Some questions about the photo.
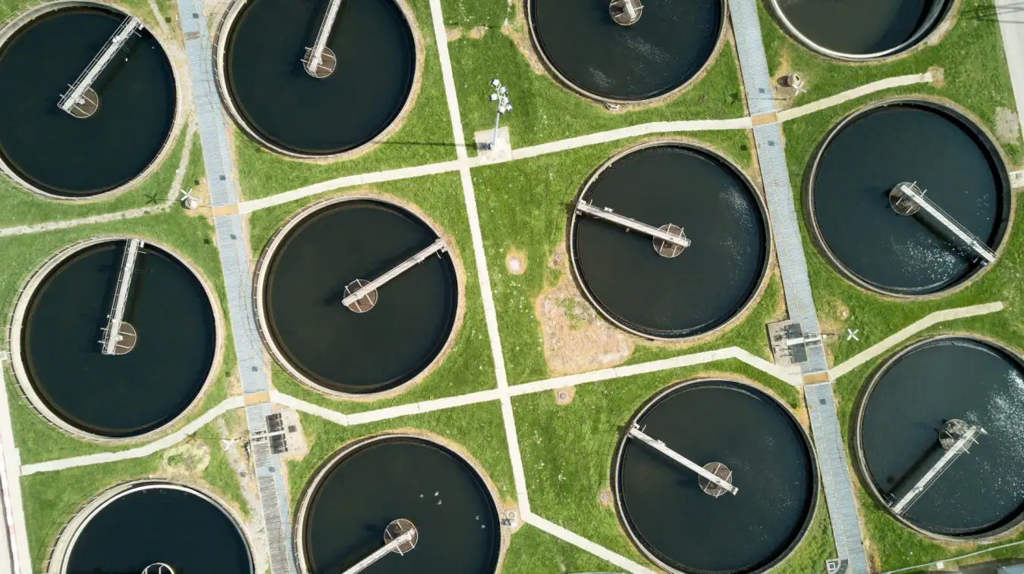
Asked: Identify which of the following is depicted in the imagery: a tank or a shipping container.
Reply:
tank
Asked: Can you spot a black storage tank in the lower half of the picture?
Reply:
Yes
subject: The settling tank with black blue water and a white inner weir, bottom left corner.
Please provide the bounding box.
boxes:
[46,477,260,574]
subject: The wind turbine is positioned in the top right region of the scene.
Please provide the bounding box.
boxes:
[788,78,812,98]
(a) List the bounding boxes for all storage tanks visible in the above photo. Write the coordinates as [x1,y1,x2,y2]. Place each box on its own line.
[6,235,220,443]
[295,435,503,574]
[860,337,1024,541]
[528,0,729,105]
[616,379,822,574]
[46,477,260,574]
[214,0,420,160]
[771,0,955,60]
[0,0,182,201]
[810,96,1013,297]
[570,138,774,341]
[254,193,461,398]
